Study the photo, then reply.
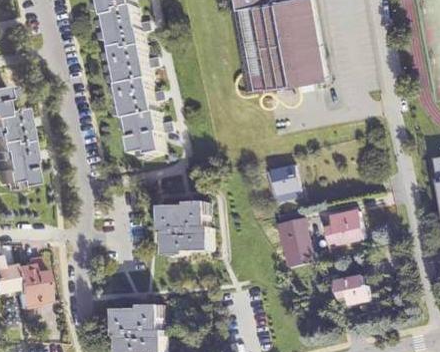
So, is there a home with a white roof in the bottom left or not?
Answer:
Yes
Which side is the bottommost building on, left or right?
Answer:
left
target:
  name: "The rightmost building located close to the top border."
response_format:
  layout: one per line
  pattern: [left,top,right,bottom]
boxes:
[233,0,331,96]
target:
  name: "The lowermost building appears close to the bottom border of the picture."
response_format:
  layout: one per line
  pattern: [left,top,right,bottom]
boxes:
[107,304,173,352]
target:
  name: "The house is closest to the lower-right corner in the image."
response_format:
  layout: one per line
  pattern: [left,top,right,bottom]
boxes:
[333,275,372,308]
